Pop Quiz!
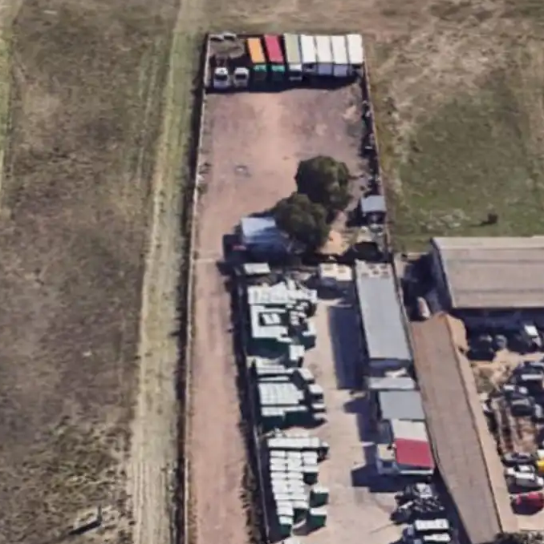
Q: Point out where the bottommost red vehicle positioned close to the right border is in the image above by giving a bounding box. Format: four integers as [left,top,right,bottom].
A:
[512,494,544,510]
